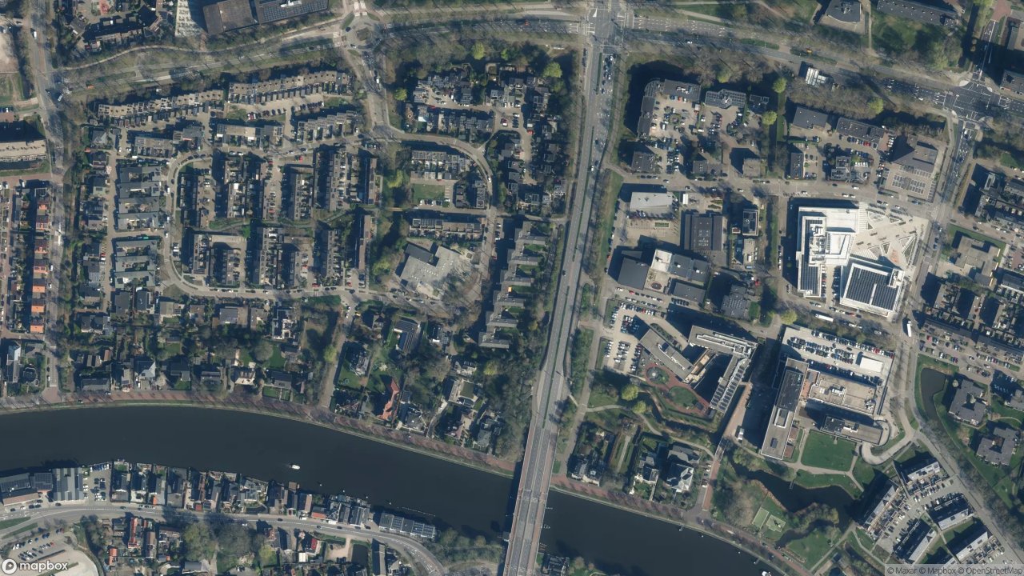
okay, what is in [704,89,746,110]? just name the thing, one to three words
building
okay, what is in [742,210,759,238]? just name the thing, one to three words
building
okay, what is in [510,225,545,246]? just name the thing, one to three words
house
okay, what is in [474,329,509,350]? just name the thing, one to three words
house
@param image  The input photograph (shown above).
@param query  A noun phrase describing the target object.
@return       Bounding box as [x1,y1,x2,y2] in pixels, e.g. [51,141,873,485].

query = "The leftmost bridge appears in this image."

[503,470,555,576]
